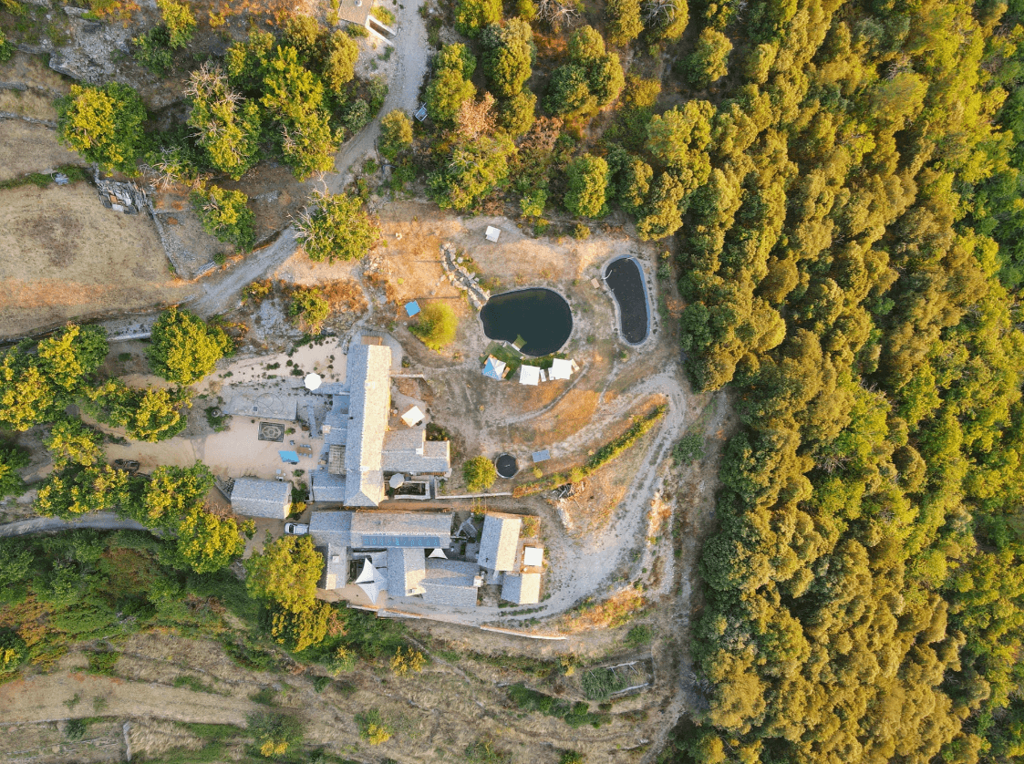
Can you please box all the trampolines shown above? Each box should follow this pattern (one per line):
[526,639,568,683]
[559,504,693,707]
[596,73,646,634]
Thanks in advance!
[495,454,519,479]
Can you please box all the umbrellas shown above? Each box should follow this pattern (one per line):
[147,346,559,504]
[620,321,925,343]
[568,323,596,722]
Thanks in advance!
[305,374,321,390]
[390,474,404,488]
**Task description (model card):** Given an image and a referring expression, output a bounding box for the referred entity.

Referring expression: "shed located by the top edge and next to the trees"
[338,0,379,34]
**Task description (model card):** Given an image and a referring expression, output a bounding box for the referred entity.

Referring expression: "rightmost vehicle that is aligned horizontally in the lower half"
[285,522,310,534]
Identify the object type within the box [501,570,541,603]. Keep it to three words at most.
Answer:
house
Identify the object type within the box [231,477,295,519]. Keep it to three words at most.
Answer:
building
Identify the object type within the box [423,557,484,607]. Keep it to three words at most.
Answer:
house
